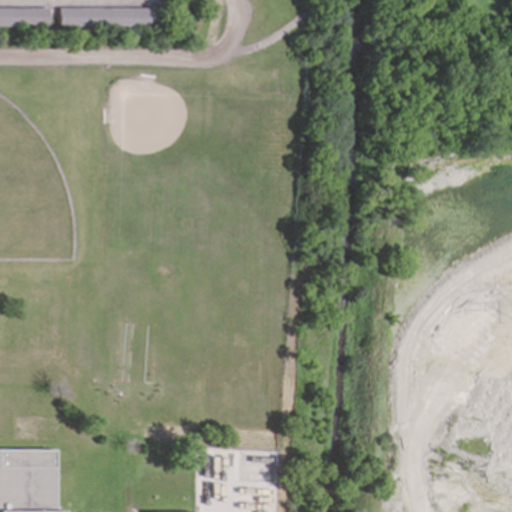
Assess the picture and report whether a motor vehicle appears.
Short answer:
No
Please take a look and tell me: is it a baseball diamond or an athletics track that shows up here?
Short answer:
baseball diamond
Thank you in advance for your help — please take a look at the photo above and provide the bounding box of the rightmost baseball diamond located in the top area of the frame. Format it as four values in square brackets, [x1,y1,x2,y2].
[109,78,281,259]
